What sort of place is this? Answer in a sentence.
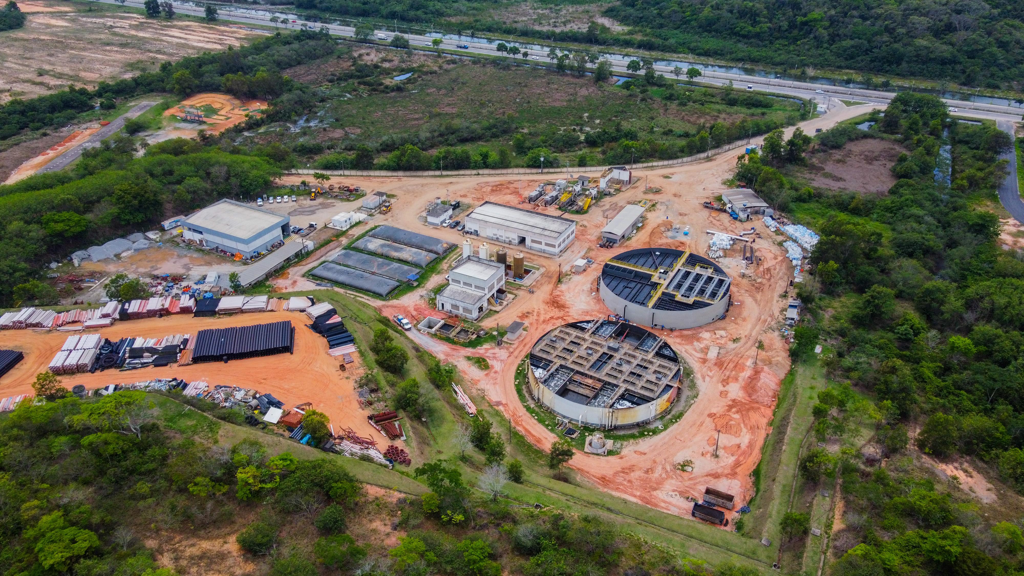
It's an industrial area.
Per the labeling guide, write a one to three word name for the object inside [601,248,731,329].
storage tank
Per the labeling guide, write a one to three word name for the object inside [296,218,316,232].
vehicle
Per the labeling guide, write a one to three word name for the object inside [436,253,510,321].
building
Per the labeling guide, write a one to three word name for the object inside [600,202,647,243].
shed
